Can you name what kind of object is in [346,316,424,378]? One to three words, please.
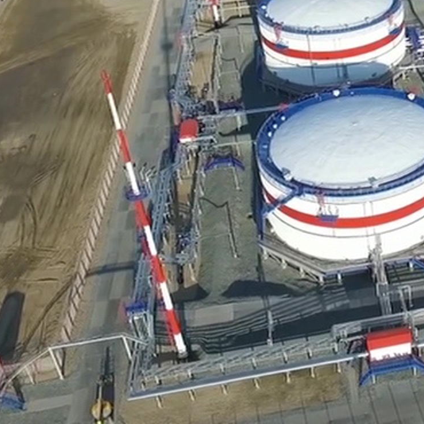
building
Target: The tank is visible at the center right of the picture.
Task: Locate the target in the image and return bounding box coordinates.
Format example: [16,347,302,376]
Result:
[254,83,424,280]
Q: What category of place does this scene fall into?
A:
industrial area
